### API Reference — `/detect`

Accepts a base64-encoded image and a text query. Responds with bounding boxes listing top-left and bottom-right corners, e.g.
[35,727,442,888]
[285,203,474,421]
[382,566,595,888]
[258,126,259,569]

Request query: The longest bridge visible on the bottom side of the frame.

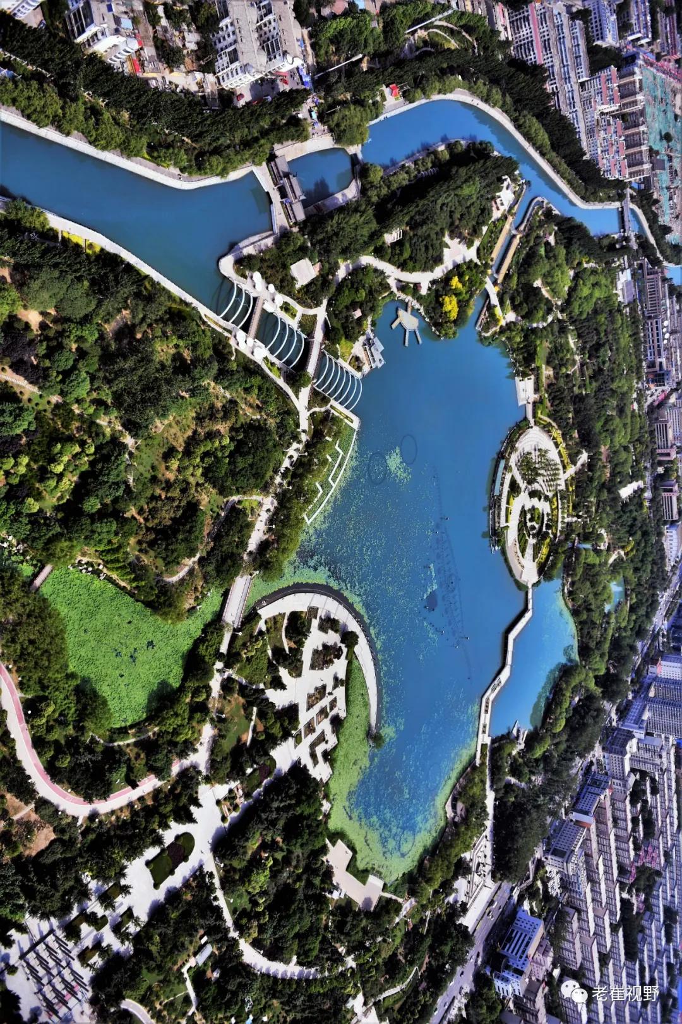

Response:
[477,585,535,763]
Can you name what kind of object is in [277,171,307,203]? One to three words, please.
house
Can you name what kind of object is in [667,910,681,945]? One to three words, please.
building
